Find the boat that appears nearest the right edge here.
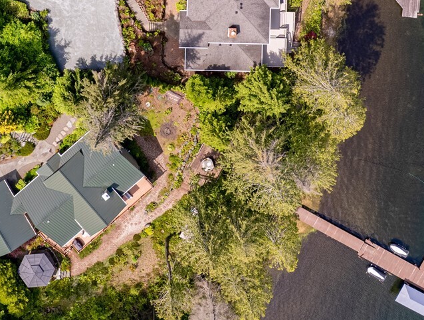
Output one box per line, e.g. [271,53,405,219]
[391,245,411,259]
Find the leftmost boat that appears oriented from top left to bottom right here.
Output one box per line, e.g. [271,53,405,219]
[368,268,387,282]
